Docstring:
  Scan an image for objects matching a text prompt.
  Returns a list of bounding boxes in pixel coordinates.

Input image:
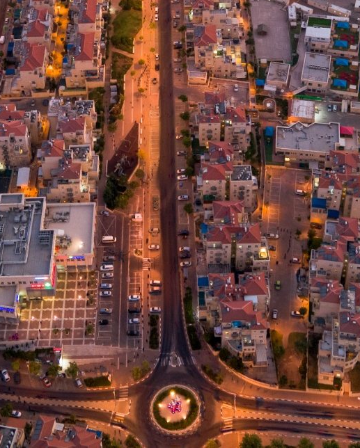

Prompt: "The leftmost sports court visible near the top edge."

[251,0,290,59]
